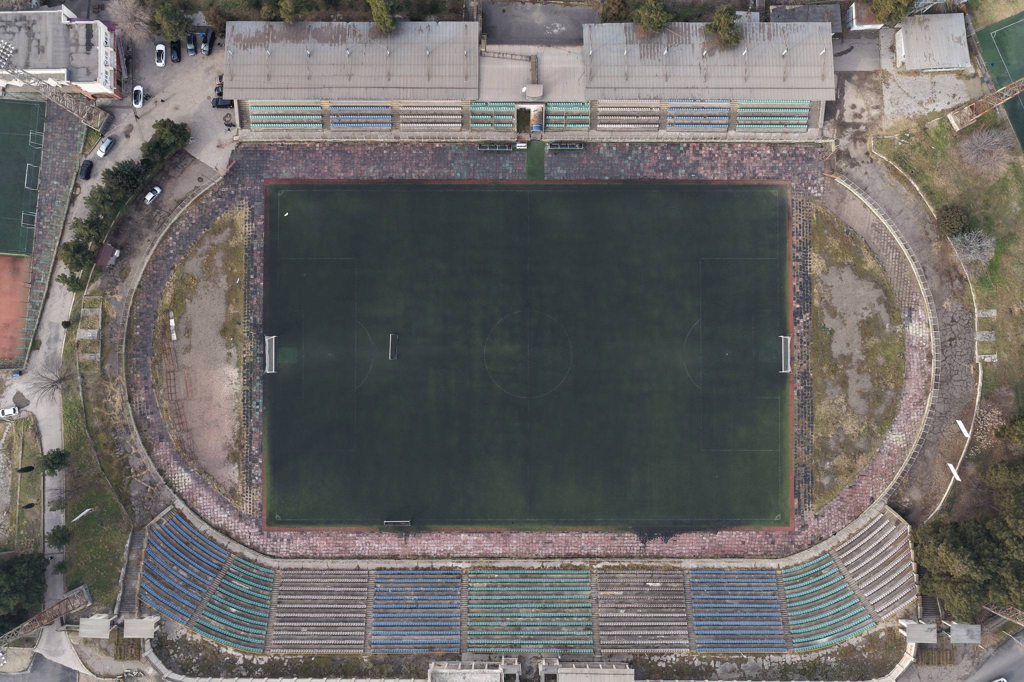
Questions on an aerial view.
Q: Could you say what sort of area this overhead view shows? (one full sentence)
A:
The picture captures a sports ground.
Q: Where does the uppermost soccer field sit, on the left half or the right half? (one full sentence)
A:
The uppermost soccer field is on the right side of the image.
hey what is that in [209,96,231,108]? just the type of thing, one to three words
vehicle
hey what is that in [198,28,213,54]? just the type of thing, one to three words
car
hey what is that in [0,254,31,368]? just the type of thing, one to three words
sports court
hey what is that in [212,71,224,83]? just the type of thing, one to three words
vehicle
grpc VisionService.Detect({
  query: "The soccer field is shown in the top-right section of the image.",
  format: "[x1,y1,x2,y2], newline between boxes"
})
[974,8,1024,150]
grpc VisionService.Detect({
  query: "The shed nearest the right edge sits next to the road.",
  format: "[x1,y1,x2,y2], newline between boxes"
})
[890,13,971,75]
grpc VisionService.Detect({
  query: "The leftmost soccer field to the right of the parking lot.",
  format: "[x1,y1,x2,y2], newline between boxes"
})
[260,180,795,544]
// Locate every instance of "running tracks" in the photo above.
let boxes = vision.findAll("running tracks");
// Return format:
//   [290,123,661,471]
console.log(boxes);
[127,141,936,559]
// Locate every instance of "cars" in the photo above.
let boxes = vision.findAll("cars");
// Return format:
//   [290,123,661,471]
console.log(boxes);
[209,96,231,108]
[77,157,92,180]
[152,43,164,65]
[95,134,114,157]
[130,84,142,106]
[198,28,213,54]
[141,184,160,205]
[167,37,180,61]
[184,32,196,55]
[211,84,224,95]
[212,71,224,83]
[0,407,17,418]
